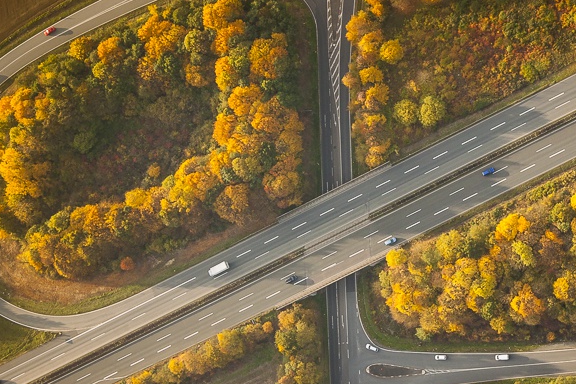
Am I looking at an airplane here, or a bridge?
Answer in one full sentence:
I can see a bridge in this picture.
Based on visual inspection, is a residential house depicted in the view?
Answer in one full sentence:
No, the frame has no residential house in it.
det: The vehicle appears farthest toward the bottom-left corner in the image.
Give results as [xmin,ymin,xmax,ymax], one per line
[210,262,228,275]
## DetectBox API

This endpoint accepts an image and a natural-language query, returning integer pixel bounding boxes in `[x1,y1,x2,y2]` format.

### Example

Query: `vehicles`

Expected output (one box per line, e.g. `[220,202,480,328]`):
[366,344,378,352]
[286,275,298,284]
[496,354,509,360]
[483,168,494,176]
[45,27,55,35]
[434,355,447,360]
[210,262,228,275]
[385,237,396,245]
